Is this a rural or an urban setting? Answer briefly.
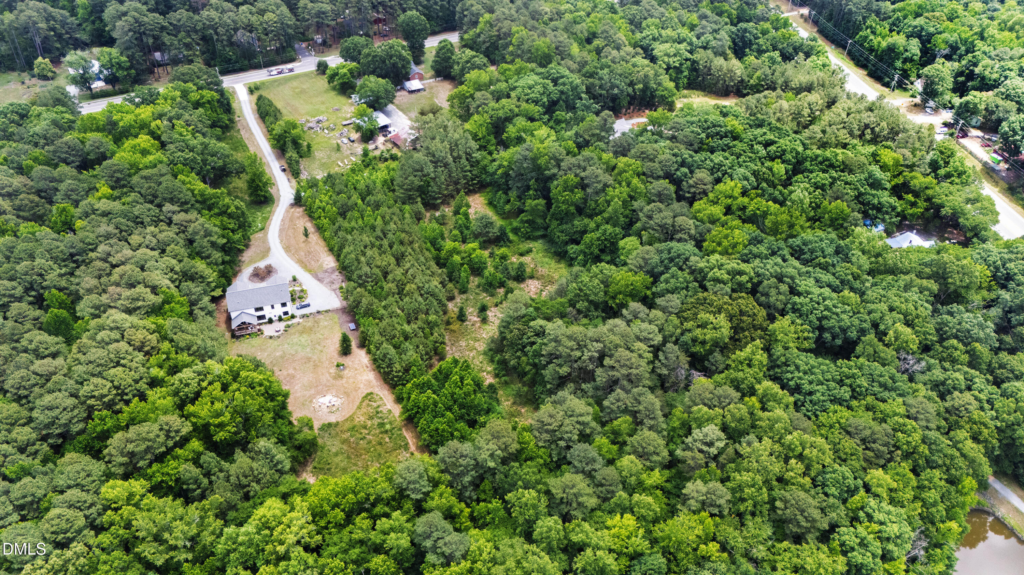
rural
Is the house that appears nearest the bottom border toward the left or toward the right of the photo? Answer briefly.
left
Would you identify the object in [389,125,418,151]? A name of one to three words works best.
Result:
barn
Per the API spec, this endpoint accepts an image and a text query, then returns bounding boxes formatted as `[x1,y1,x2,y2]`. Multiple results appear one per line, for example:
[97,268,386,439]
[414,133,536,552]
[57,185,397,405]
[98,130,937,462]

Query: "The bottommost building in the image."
[225,274,292,336]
